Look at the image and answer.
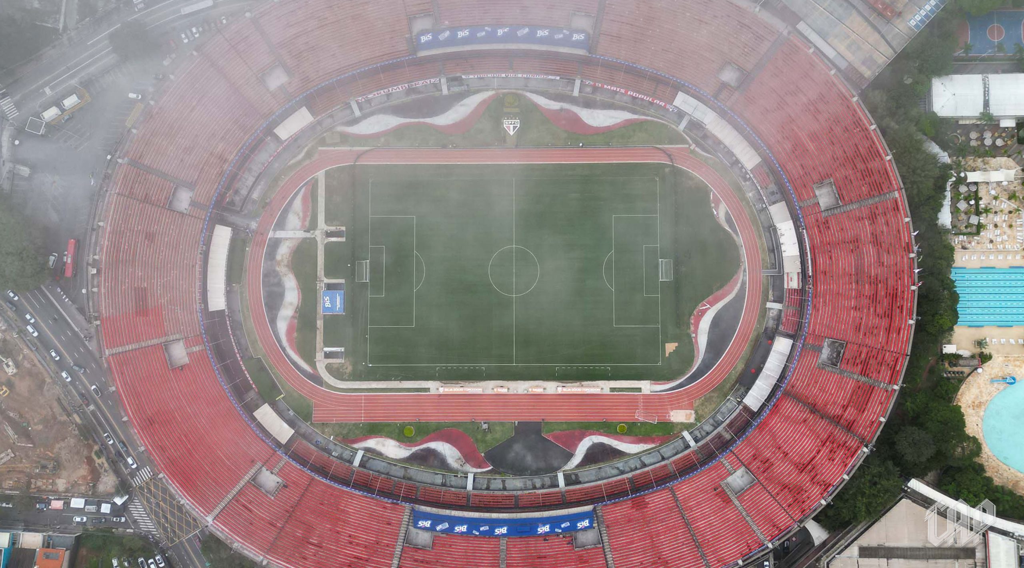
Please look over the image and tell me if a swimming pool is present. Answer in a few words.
Yes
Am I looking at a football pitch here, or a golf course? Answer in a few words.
football pitch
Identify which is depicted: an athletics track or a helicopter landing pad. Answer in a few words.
athletics track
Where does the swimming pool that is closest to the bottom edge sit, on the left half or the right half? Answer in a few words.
right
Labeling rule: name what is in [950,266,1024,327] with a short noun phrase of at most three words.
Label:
swimming pool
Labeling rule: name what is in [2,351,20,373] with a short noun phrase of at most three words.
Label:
work vehicle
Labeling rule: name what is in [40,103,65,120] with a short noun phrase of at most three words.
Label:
vehicle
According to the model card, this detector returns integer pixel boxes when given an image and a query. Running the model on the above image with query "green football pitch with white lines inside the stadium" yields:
[347,162,681,382]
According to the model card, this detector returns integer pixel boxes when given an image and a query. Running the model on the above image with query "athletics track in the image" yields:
[248,147,762,423]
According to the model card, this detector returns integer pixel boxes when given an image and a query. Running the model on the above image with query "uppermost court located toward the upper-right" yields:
[951,8,1024,56]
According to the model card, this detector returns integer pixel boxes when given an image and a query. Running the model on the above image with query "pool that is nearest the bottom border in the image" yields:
[981,378,1024,474]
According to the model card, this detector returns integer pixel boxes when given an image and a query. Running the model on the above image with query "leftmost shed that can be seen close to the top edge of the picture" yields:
[796,19,850,69]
